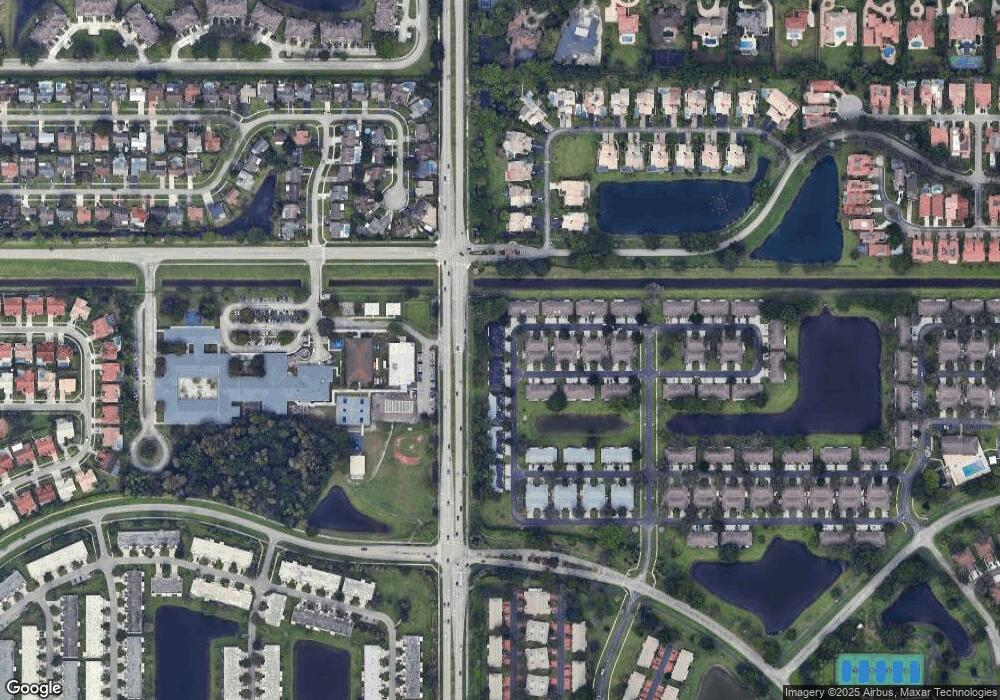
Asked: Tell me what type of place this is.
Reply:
residential area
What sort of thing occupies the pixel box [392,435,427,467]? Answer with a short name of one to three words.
baseball field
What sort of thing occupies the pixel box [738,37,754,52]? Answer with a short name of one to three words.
swimming pool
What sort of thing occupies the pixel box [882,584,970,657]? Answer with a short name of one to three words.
pond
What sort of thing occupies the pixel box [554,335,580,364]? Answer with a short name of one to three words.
house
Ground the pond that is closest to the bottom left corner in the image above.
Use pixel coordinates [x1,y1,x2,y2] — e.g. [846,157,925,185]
[151,605,239,700]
